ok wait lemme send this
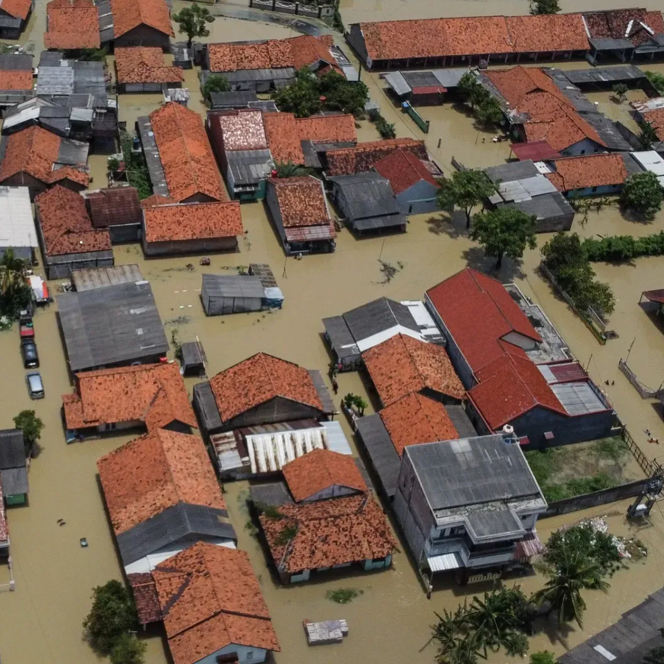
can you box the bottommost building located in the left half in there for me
[127,541,279,664]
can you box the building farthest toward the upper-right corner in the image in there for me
[582,7,664,66]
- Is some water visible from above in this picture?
Yes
